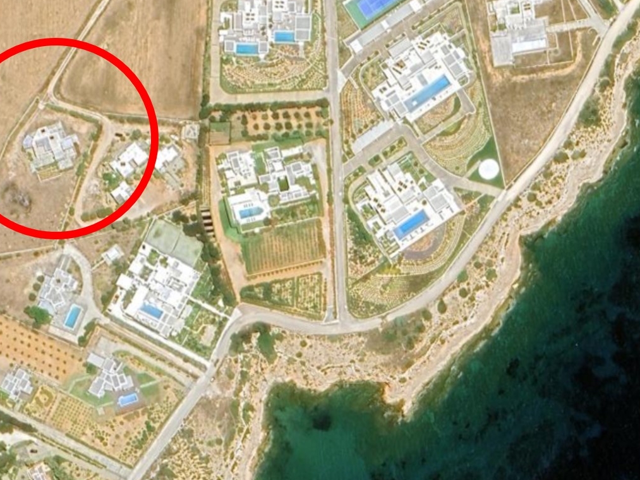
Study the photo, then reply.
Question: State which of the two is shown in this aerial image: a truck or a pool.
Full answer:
Of the two, only a pool appears.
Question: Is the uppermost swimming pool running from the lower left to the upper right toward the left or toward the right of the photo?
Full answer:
You can find the uppermost swimming pool running from the lower left to the upper right on the right side of the picture.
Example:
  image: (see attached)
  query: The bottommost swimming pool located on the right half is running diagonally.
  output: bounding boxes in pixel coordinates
[392,209,430,240]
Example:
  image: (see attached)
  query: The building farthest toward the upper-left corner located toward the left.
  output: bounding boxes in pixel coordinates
[24,121,80,181]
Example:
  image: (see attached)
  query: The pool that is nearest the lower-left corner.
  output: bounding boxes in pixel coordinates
[118,392,138,407]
